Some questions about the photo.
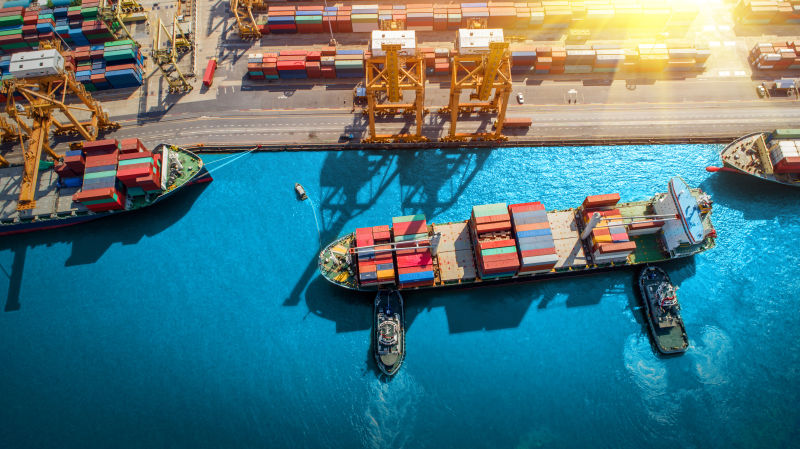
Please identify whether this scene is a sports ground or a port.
port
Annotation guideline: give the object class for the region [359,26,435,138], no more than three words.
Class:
container crane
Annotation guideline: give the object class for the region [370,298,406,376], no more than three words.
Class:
boat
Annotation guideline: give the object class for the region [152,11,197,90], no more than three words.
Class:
container crane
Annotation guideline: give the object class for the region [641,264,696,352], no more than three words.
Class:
boat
